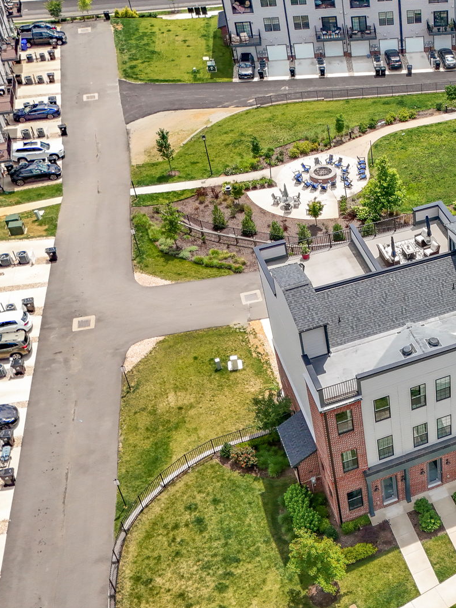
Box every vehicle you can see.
[14,24,70,48]
[0,406,20,430]
[13,138,63,162]
[16,16,60,32]
[0,311,34,333]
[381,49,402,72]
[6,159,63,187]
[0,329,32,361]
[10,102,62,126]
[234,53,256,79]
